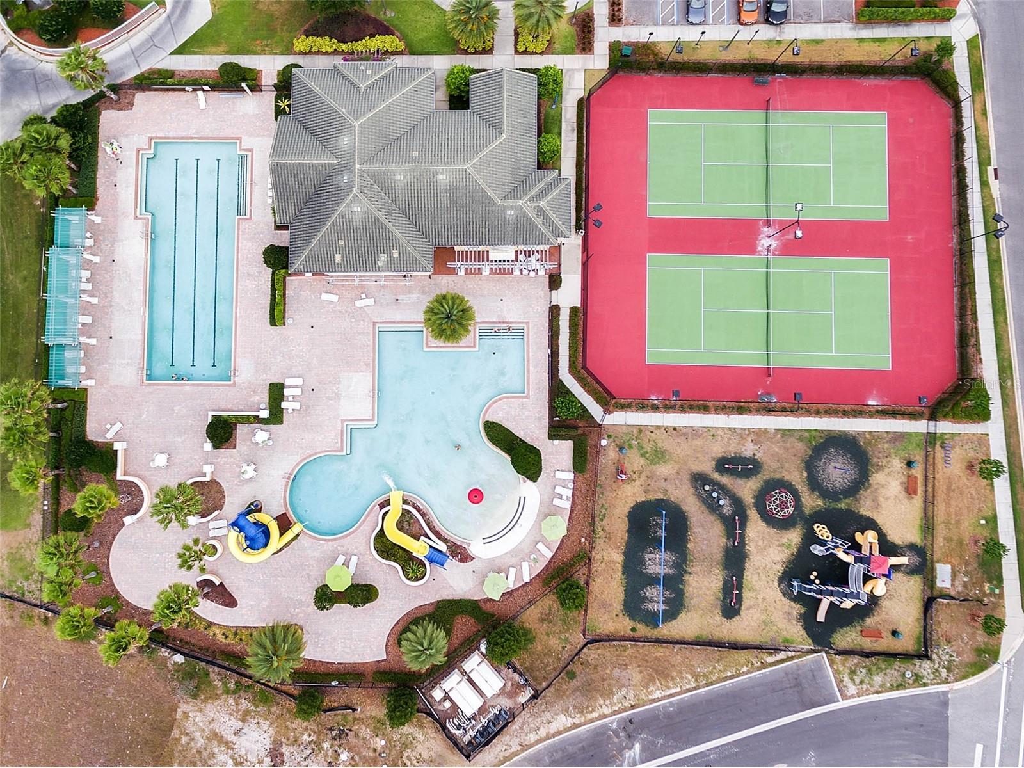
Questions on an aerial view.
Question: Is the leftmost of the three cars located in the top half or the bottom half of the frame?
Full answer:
The top half of the photo is where the leftmost of the three cars is.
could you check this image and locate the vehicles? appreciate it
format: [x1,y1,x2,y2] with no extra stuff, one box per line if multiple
[685,0,708,25]
[738,0,761,26]
[766,0,789,26]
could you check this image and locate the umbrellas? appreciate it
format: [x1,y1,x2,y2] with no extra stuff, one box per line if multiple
[483,573,507,597]
[325,564,352,590]
[540,513,567,540]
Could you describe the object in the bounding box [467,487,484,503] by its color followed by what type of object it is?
red fountain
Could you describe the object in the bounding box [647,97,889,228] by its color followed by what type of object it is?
green tennis court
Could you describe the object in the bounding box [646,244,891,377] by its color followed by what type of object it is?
green tennis court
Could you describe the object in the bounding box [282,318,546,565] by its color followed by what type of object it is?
white swimming pool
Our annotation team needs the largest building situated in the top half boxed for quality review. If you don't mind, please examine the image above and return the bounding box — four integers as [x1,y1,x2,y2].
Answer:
[271,61,572,275]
